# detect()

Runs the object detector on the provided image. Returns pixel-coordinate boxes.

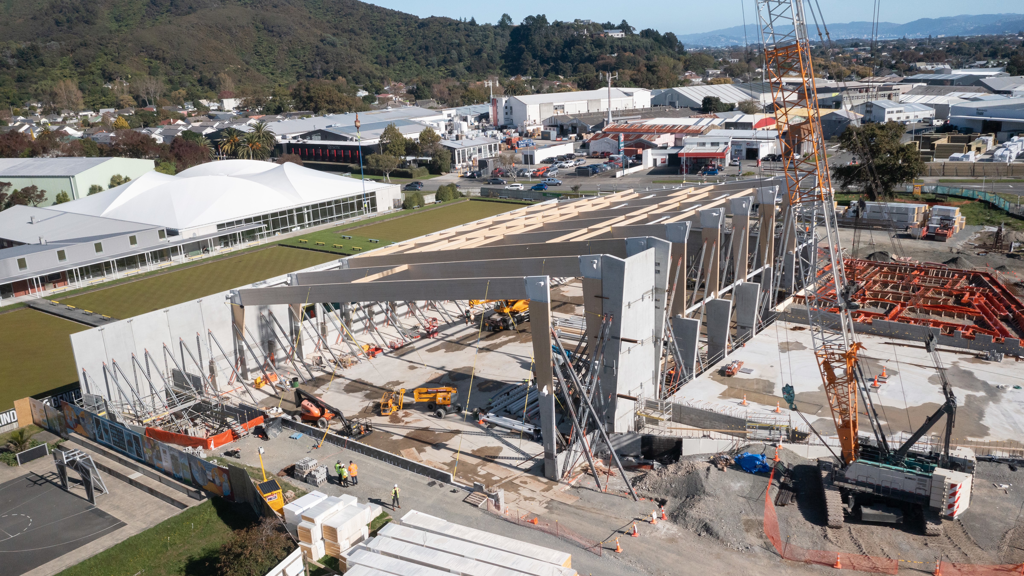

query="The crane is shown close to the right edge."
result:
[754,0,989,550]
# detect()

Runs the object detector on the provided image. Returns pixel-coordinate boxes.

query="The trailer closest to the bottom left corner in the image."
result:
[253,424,288,521]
